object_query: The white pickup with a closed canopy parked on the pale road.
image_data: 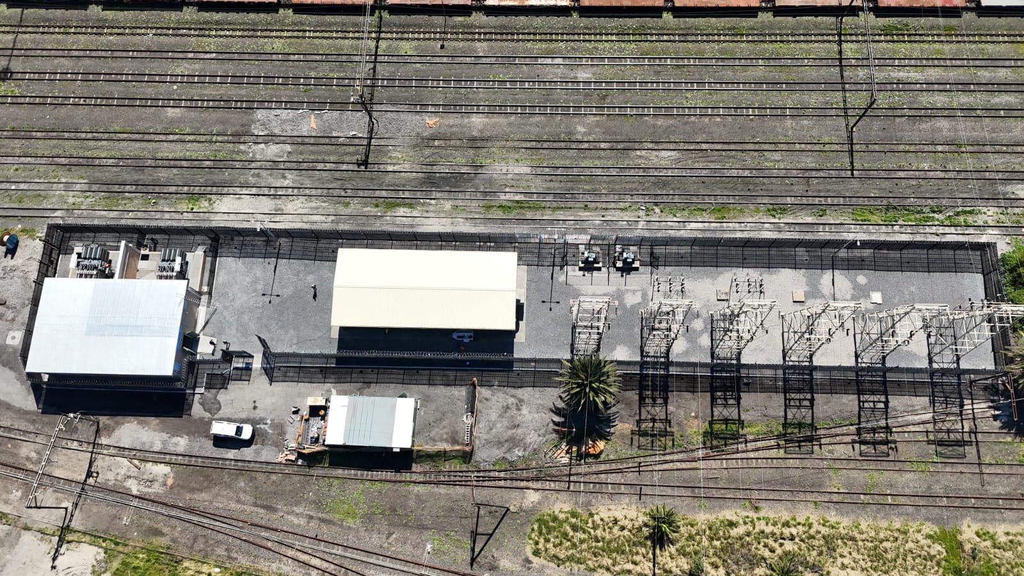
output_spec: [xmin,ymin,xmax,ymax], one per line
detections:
[210,419,254,438]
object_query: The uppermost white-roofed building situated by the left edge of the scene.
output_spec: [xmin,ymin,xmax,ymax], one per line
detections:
[28,277,208,382]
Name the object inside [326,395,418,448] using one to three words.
shed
